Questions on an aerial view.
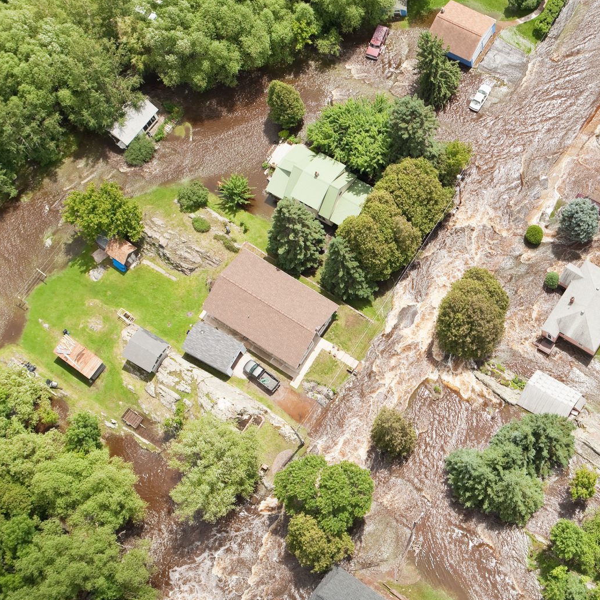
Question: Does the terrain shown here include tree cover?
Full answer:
Yes, tree cover shows up in the scene.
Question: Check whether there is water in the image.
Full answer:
Yes, there's water in this view.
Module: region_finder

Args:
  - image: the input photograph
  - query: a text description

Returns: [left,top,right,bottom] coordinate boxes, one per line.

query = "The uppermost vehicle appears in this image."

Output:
[364,23,390,61]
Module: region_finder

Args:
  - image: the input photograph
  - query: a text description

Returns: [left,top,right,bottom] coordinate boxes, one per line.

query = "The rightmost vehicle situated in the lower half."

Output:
[243,359,281,395]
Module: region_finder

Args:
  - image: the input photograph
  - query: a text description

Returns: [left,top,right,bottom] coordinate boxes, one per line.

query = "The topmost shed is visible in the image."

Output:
[382,0,408,20]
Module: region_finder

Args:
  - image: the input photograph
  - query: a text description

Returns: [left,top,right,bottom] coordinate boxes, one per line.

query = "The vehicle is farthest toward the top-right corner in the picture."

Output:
[467,81,493,116]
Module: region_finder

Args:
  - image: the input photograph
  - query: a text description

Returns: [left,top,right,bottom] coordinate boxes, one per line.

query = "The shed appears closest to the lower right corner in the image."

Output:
[520,370,589,429]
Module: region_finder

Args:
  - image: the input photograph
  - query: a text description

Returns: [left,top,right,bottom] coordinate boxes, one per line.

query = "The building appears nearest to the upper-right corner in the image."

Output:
[424,0,497,69]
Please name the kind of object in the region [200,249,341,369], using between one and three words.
house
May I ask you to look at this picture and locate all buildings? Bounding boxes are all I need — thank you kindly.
[119,327,170,374]
[424,0,497,69]
[521,256,600,360]
[309,570,383,600]
[200,249,341,369]
[520,370,589,429]
[107,98,168,149]
[382,0,408,20]
[53,335,108,382]
[250,134,371,232]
